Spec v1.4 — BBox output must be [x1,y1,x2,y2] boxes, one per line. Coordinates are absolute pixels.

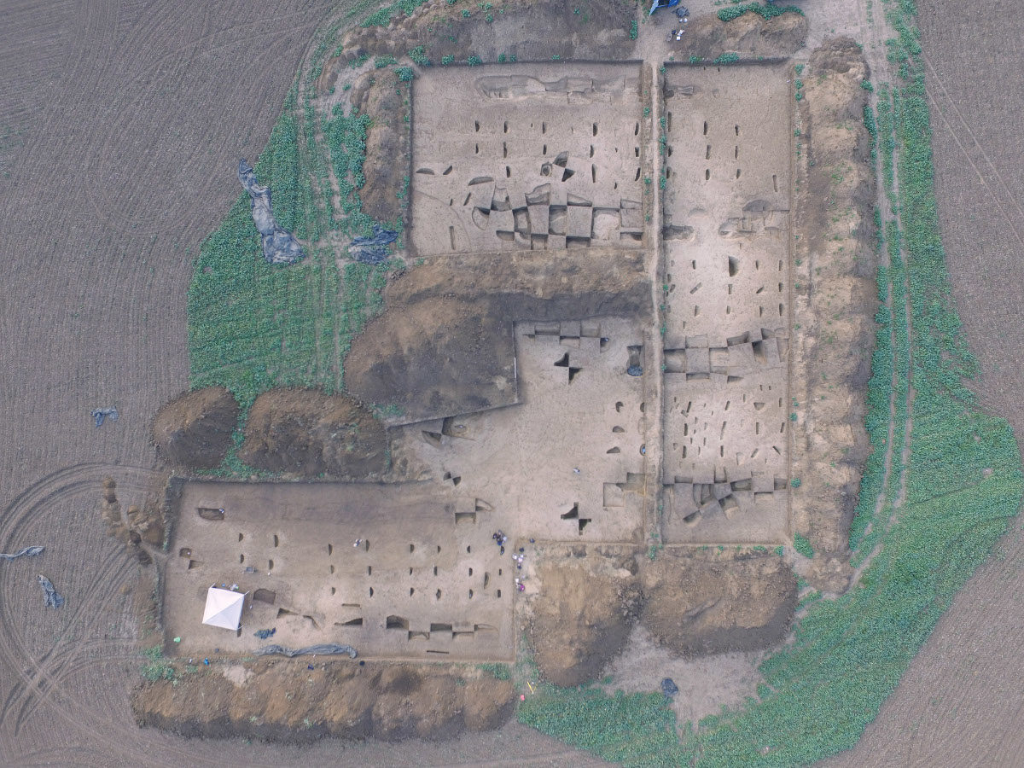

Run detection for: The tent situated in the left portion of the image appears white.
[203,583,250,630]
